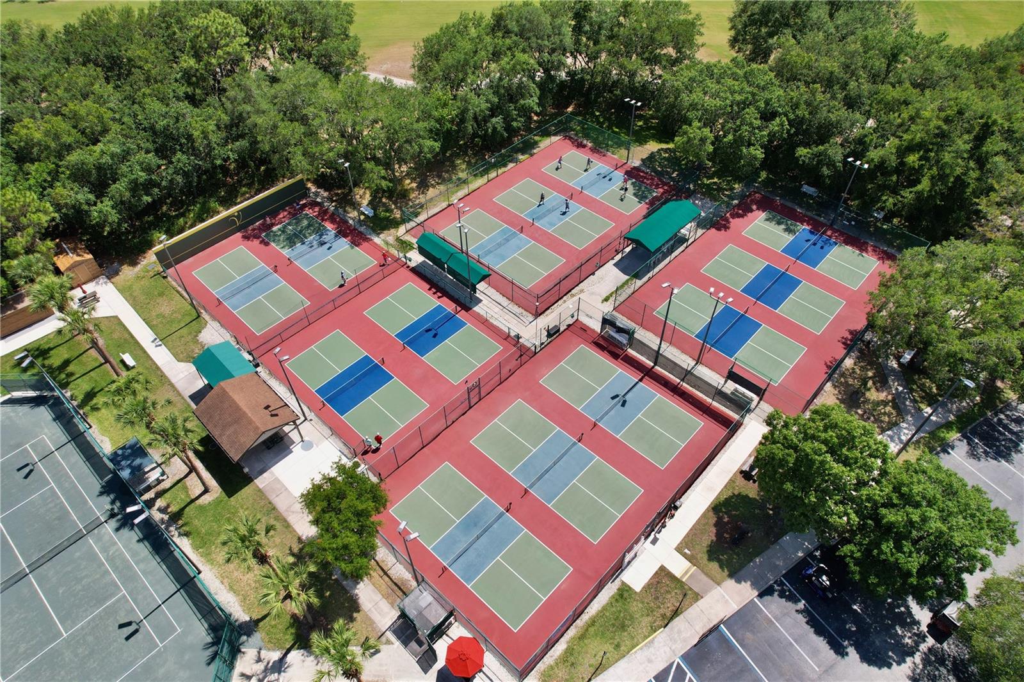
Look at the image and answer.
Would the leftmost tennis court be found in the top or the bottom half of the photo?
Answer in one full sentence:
Seen from above, the leftmost tennis court lies in the bottom half of the view.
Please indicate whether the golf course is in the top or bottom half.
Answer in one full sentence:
It is in the top half that the golf course appears.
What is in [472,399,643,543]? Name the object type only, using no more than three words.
sports court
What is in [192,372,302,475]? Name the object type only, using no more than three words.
building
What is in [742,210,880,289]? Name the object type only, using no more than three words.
sports court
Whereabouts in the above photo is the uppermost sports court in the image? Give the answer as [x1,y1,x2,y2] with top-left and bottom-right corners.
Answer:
[543,151,658,213]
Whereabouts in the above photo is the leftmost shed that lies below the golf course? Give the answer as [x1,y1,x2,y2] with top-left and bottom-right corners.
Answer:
[48,242,102,286]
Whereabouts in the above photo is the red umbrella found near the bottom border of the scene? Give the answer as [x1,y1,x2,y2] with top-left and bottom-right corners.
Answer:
[444,637,487,682]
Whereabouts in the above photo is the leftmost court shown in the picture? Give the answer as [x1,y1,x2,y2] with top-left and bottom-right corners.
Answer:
[0,391,248,682]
